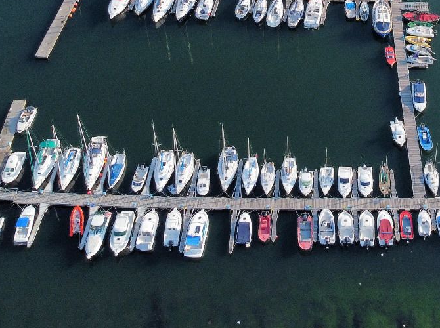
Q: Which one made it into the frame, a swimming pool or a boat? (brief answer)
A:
boat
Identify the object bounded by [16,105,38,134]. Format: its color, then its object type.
white boat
